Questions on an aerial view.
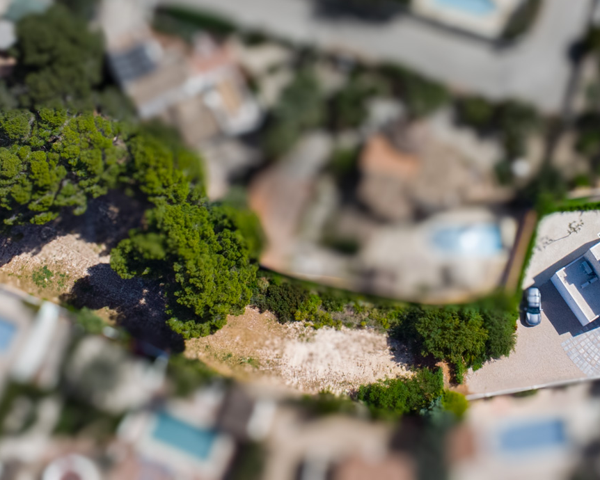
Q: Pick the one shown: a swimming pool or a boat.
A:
swimming pool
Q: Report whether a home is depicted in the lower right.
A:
Yes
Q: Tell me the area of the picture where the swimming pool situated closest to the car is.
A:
right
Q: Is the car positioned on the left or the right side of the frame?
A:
right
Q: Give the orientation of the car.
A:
from top to bottom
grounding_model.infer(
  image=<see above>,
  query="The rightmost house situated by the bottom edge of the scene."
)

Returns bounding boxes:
[452,412,487,457]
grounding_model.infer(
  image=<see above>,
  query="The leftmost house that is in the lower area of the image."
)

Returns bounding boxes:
[11,304,76,386]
